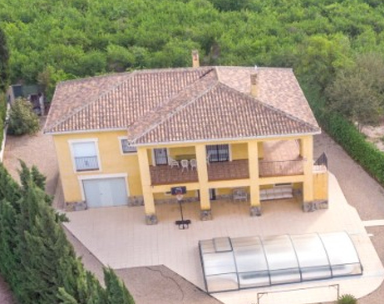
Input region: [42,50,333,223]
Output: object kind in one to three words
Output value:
house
